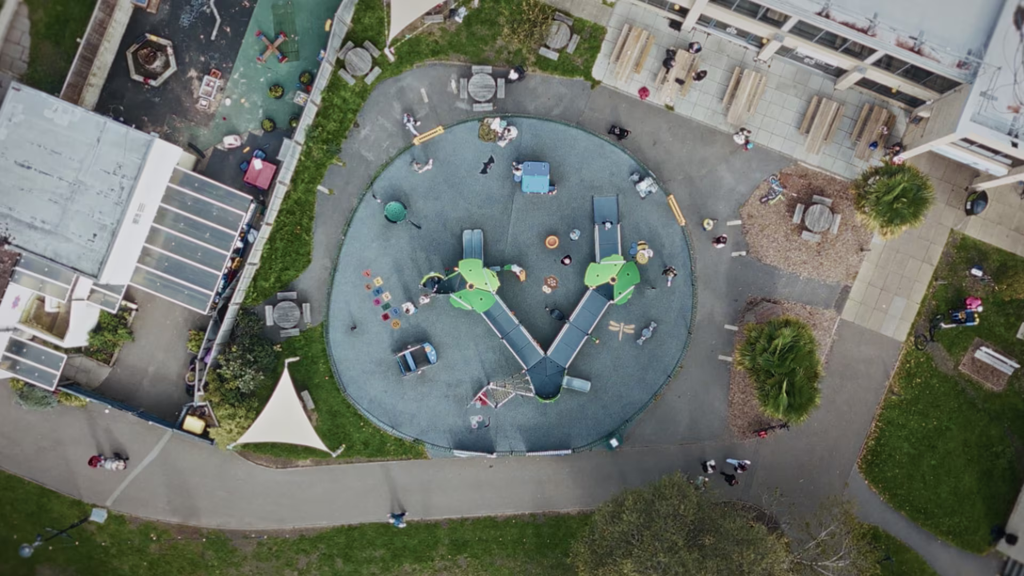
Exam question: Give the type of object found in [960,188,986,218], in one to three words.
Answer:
umbrella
